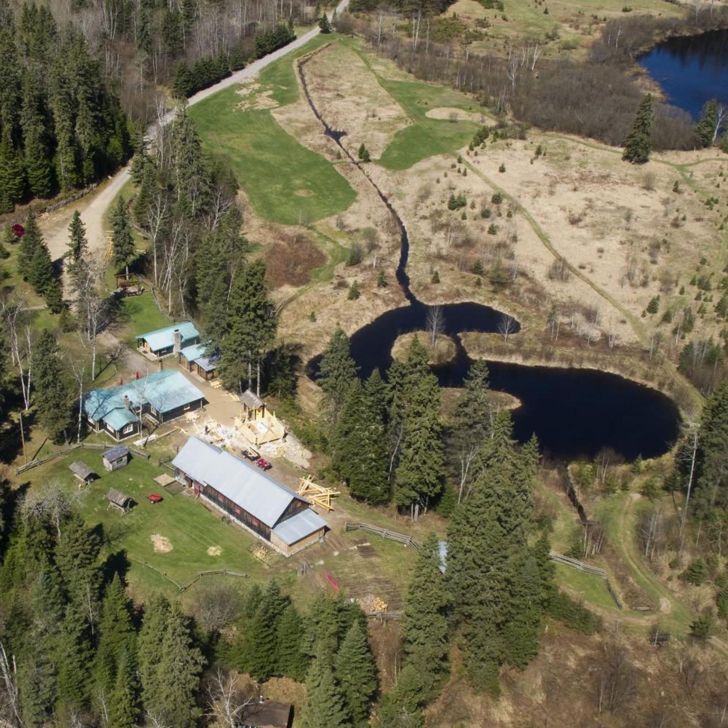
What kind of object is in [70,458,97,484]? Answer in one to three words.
shed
